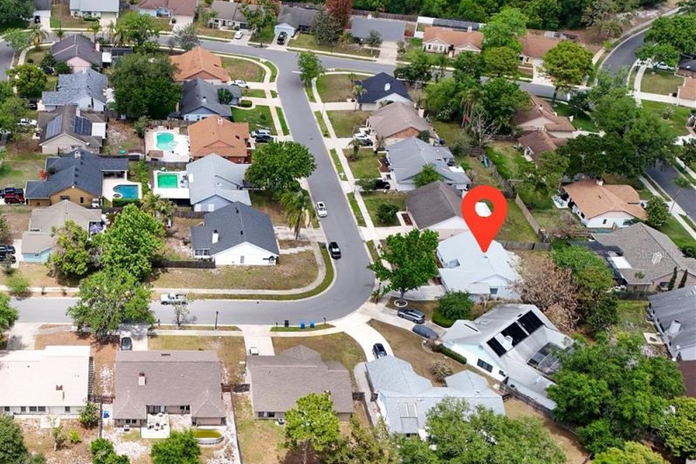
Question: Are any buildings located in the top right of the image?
Yes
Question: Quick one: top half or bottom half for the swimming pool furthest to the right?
bottom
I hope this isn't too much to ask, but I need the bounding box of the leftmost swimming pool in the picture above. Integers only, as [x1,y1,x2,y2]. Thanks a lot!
[104,180,143,203]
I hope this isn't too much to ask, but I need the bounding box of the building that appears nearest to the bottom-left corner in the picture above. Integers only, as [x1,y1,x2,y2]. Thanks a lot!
[0,337,91,415]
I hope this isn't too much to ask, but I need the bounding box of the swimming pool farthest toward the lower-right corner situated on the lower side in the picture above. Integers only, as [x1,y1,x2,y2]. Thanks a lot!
[527,343,568,375]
